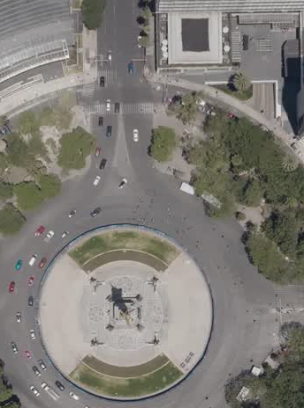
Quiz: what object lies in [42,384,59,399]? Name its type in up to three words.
vehicle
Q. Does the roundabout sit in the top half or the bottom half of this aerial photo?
bottom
